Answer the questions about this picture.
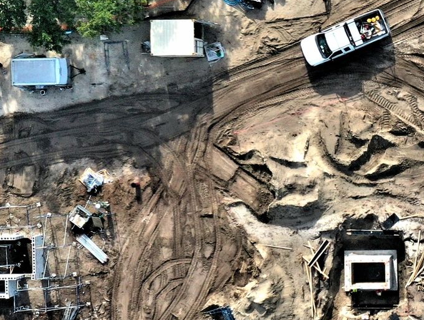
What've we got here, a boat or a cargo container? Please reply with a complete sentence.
Visible in the photo is a cargo container.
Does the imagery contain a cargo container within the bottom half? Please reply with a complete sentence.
No, no cargo container appears within the bottom half.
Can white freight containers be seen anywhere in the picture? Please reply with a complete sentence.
Yes, a white freight container can be made out from above.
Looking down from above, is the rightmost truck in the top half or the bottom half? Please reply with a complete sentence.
The rightmost truck sits in the top half of the picture.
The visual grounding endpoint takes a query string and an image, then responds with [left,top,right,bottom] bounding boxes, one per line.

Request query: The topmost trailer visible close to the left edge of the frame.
[7,52,89,90]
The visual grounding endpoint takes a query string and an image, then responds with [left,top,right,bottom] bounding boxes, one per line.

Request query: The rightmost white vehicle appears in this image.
[301,8,397,68]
